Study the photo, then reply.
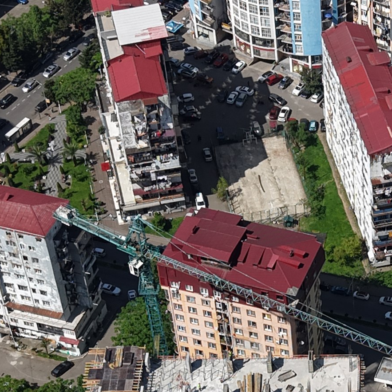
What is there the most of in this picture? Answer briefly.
buildings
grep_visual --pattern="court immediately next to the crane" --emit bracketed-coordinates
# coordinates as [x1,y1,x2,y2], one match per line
[215,135,305,221]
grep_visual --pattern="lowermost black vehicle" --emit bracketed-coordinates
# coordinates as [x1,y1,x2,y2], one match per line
[50,361,76,380]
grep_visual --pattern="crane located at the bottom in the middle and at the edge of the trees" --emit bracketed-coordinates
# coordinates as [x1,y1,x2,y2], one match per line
[49,208,392,364]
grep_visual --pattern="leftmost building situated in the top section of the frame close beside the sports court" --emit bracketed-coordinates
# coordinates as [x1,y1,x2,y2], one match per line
[93,0,200,239]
